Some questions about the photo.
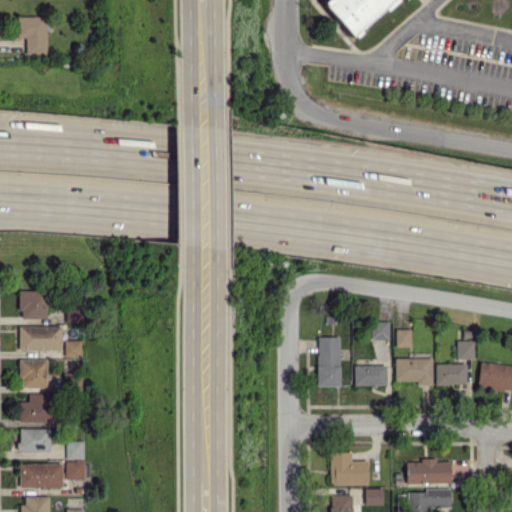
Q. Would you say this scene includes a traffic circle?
No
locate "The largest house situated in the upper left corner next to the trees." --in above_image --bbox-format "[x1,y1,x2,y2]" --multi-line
[20,16,48,54]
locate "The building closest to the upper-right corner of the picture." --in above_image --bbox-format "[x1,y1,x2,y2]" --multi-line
[329,0,404,39]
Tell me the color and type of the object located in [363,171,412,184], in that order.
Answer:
white vehicle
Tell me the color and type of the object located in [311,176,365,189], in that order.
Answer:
white vehicle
